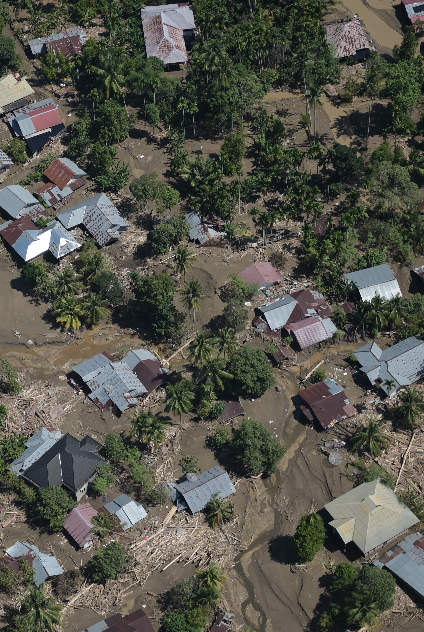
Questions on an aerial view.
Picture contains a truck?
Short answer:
No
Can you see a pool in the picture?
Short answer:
No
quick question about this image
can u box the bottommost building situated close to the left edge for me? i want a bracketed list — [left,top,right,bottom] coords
[0,539,63,590]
